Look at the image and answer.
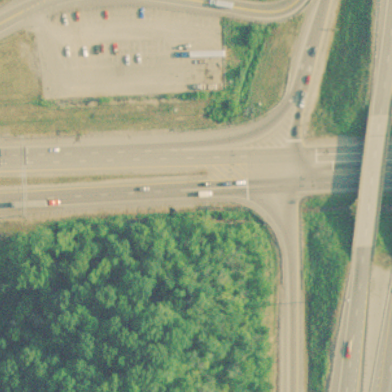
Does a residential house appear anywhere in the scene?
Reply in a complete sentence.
No, the picture doesn't show any residential house.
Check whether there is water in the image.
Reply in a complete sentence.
No, no water is visible.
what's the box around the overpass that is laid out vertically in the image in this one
[352,115,392,248]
